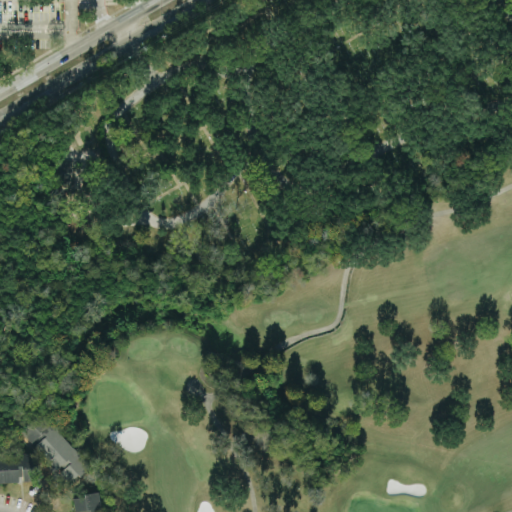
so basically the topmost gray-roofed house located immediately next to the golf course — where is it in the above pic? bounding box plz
[25,430,88,482]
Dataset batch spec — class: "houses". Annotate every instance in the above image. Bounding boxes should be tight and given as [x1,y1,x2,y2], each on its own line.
[0,462,30,486]
[73,494,99,512]
[25,430,88,482]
